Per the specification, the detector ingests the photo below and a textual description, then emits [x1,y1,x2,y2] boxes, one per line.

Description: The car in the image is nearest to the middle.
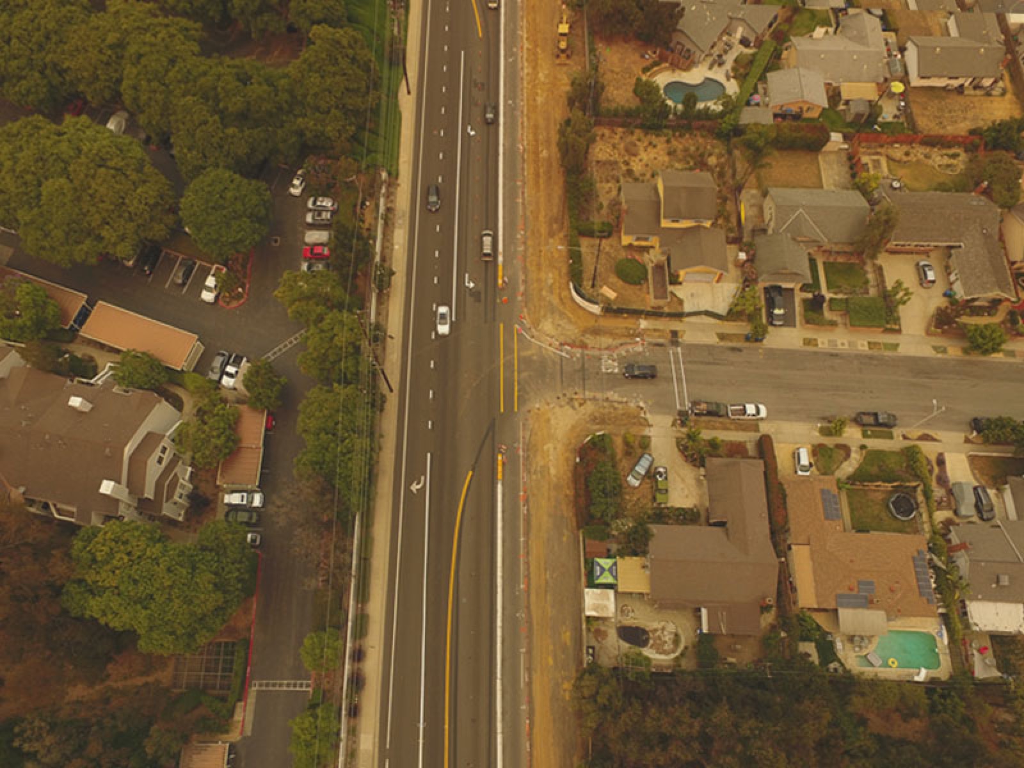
[435,304,450,336]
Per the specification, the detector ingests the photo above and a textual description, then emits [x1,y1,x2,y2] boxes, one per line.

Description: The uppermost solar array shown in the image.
[821,490,840,521]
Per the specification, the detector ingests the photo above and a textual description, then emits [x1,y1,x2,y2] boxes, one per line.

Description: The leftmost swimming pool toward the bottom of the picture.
[614,622,653,649]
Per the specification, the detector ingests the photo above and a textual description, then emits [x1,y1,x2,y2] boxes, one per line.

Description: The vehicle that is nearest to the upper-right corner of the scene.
[917,260,938,288]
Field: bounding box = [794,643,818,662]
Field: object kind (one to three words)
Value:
shed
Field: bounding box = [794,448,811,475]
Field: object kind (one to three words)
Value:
car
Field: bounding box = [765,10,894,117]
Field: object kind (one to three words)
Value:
house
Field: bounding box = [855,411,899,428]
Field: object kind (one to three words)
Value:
vehicle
